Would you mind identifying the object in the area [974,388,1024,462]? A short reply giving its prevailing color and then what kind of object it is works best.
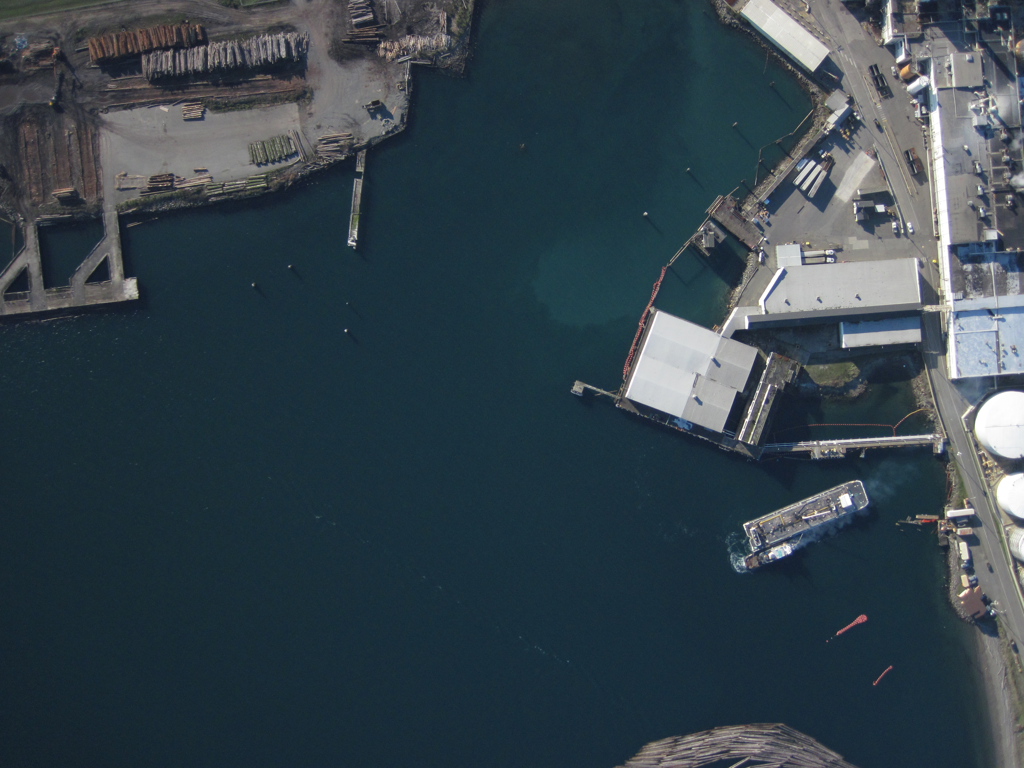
white storage tank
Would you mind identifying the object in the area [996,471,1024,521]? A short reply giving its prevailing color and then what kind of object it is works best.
white storage tank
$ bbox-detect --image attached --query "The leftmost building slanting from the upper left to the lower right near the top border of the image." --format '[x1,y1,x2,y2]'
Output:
[737,0,829,75]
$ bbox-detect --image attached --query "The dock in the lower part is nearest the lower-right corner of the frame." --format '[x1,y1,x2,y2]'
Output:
[935,507,953,546]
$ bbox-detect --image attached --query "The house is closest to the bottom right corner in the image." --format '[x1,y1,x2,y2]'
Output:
[955,585,986,618]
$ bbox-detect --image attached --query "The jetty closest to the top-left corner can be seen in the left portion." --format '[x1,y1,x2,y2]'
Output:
[0,212,139,315]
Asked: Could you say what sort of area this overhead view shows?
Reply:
port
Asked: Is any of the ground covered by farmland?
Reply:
No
